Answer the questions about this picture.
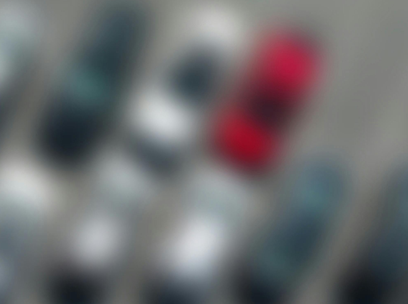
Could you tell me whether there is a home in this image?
No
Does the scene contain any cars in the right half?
Yes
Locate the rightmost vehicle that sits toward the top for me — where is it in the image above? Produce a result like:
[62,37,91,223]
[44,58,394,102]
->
[214,38,319,176]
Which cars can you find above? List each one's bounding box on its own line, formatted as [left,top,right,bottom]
[0,169,54,304]
[214,38,319,176]
[33,13,154,169]
[134,15,247,167]
[231,162,352,304]
[0,25,40,134]
[38,162,153,304]
[139,173,251,304]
